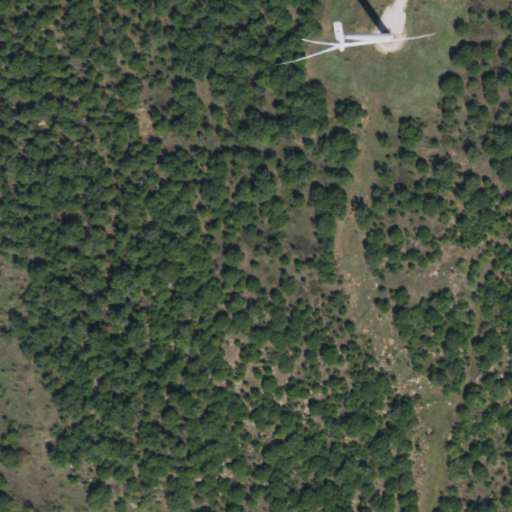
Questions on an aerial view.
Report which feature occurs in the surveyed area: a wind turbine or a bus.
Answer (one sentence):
Of the two, only a wind turbine appears.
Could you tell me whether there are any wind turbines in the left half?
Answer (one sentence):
No, I see no wind turbine in the left half.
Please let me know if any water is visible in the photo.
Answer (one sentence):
No, water can't be seen anywhere here.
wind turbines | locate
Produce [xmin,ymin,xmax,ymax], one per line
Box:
[280,20,436,64]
